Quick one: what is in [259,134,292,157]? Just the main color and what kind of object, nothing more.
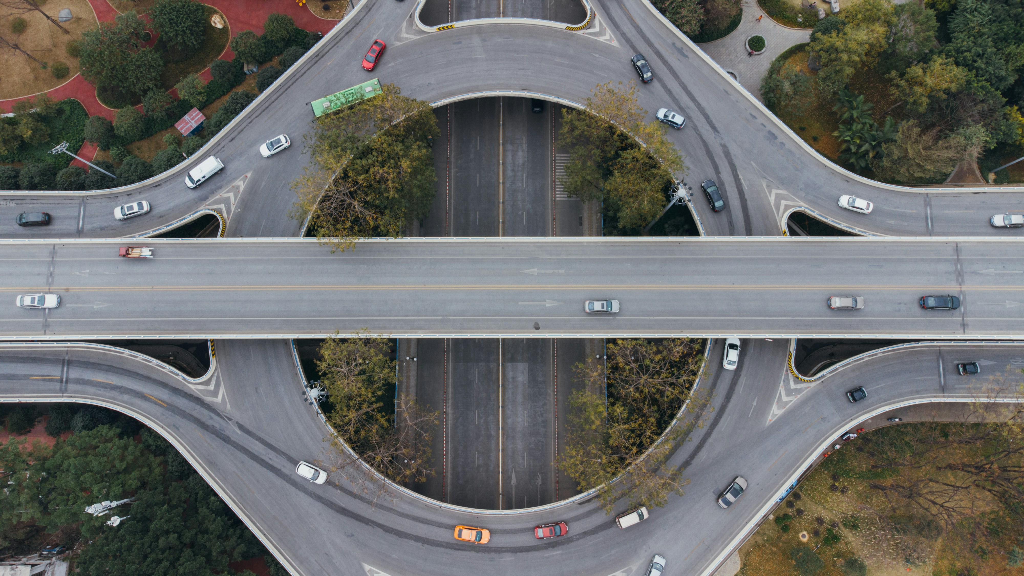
white car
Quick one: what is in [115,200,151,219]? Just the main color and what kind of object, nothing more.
white car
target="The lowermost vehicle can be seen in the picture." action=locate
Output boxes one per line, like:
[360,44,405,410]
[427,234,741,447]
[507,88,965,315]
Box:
[643,548,666,576]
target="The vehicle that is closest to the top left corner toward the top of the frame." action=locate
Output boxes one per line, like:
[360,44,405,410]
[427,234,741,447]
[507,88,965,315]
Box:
[16,210,53,226]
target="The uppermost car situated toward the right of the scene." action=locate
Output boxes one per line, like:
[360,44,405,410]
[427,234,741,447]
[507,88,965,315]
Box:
[630,52,655,86]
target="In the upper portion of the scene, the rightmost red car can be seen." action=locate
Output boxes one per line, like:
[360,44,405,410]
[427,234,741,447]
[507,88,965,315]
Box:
[361,38,386,72]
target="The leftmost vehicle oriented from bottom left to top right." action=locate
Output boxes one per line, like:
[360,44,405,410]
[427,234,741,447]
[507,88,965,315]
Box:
[185,153,224,189]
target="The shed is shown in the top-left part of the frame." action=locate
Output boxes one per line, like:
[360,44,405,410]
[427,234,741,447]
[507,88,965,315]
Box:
[175,107,210,137]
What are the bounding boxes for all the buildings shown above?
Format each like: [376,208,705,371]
[0,543,82,576]
[175,107,210,137]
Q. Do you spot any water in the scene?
No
